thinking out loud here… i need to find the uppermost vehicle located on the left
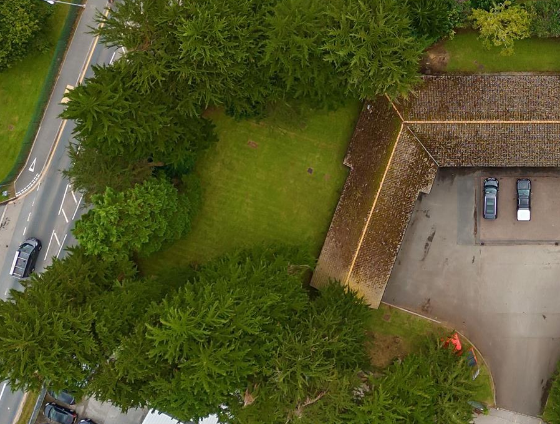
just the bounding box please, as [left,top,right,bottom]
[6,237,44,280]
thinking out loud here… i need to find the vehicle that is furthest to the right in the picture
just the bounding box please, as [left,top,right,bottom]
[514,178,532,220]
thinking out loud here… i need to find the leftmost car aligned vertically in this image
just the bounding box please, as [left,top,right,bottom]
[482,177,499,219]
